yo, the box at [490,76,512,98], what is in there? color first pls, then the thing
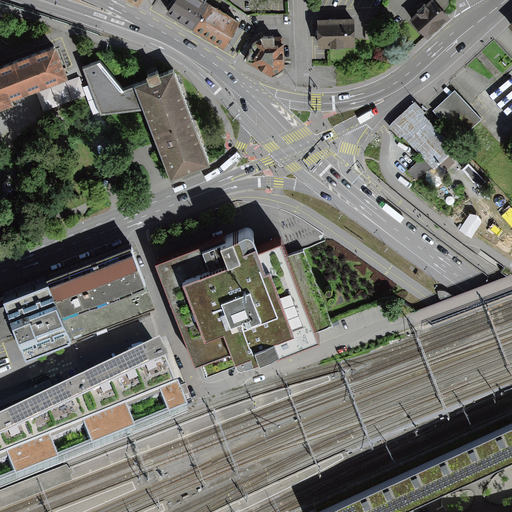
white vehicle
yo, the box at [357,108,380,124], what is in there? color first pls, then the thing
white vehicle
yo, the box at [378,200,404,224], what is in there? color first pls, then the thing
white truck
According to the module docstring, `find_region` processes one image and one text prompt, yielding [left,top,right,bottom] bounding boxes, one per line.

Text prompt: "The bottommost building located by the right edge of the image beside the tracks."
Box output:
[317,421,512,512]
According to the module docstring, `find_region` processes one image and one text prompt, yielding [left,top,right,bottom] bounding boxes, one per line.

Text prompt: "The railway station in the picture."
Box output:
[0,376,344,512]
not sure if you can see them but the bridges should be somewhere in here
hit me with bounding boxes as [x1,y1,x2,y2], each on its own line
[398,270,512,327]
